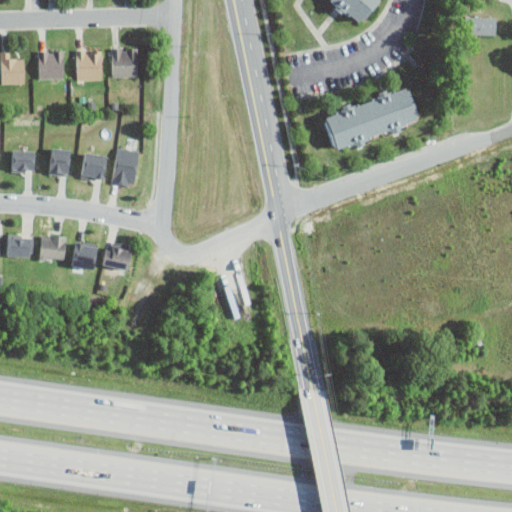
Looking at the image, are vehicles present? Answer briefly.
Yes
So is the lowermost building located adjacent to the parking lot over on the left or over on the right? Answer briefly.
right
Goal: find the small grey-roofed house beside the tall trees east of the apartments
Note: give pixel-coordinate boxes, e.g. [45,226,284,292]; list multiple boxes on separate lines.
[474,16,498,36]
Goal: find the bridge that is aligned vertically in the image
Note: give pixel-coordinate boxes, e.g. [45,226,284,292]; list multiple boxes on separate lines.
[300,394,350,512]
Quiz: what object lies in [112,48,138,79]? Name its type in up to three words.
house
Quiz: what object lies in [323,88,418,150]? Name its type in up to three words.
building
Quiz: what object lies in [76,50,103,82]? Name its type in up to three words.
house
